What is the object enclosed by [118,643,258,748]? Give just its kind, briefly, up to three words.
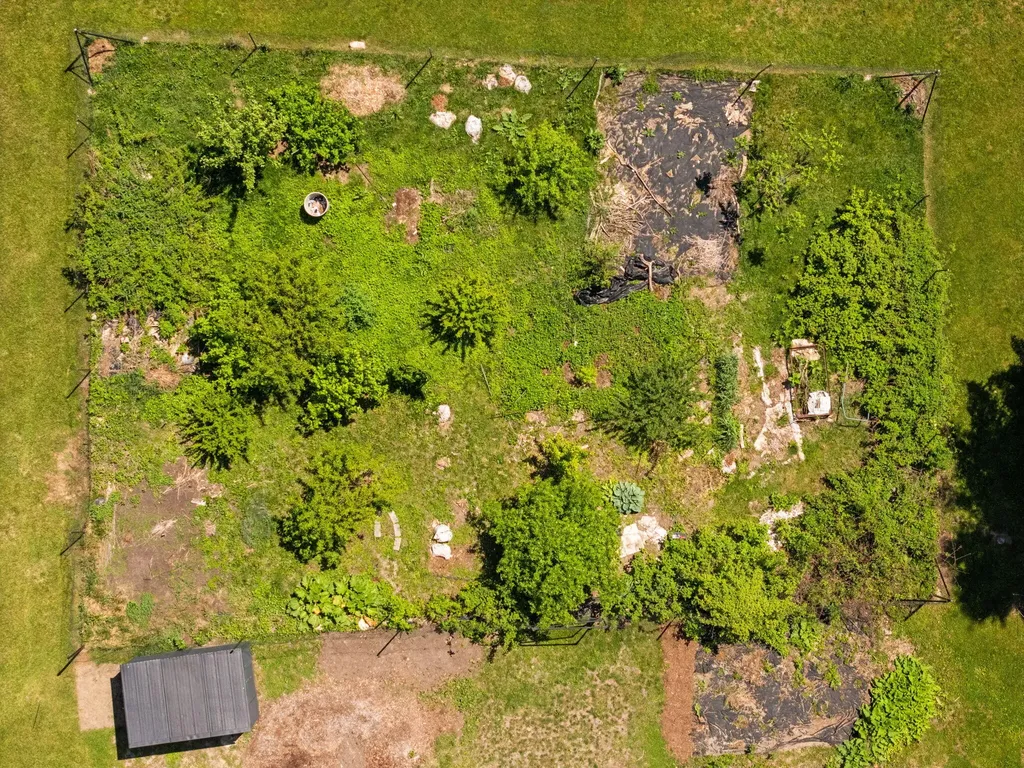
shed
